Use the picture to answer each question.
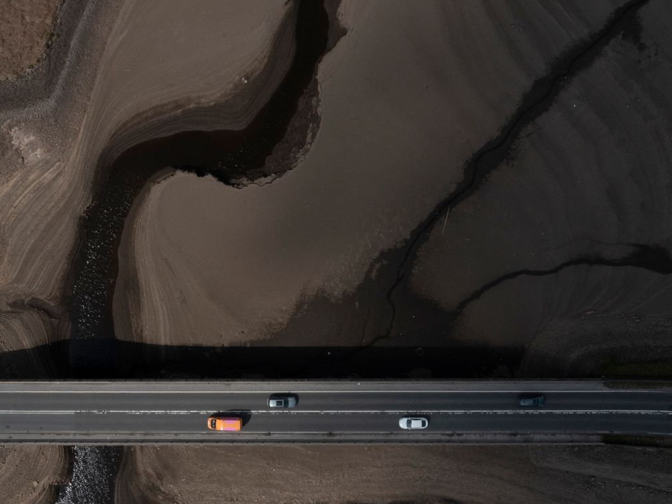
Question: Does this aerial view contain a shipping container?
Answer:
No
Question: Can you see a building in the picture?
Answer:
No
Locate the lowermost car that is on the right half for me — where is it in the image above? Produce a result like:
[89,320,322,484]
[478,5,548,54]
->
[398,417,427,430]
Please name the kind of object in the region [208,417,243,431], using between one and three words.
vehicle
